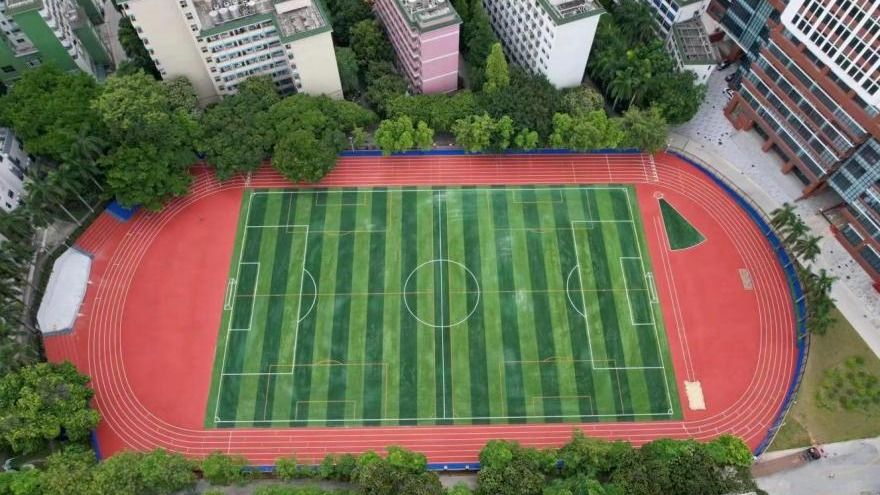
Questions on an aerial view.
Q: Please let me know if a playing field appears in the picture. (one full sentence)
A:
Yes, the frame does contain a playing field.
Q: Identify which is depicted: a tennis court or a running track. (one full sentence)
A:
The one in the frame is a running track.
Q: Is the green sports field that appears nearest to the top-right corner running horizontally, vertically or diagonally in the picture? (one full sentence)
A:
The green sports field that appears nearest to the top-right corner runs diagonally in the image.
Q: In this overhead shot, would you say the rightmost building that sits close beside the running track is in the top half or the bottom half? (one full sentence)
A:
It is in the top half that the rightmost building that sits close beside the running track appears.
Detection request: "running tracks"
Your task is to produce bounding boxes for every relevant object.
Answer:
[72,152,798,472]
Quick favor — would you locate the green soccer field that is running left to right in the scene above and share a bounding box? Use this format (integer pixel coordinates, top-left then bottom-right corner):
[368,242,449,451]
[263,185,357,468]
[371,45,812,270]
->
[204,184,683,428]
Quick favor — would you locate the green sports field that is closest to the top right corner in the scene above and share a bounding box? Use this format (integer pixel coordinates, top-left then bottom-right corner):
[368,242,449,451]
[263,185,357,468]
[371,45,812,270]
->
[656,193,708,250]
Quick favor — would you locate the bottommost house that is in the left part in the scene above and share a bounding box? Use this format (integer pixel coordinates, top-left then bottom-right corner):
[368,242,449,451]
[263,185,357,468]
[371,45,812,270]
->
[0,140,37,213]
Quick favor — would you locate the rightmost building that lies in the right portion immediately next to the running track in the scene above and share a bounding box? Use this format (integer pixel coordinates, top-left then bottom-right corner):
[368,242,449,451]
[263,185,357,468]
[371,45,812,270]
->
[691,0,880,282]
